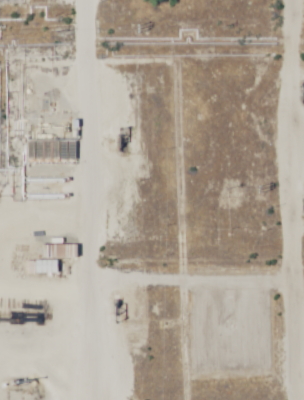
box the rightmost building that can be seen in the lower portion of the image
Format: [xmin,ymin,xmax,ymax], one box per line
[44,244,77,258]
